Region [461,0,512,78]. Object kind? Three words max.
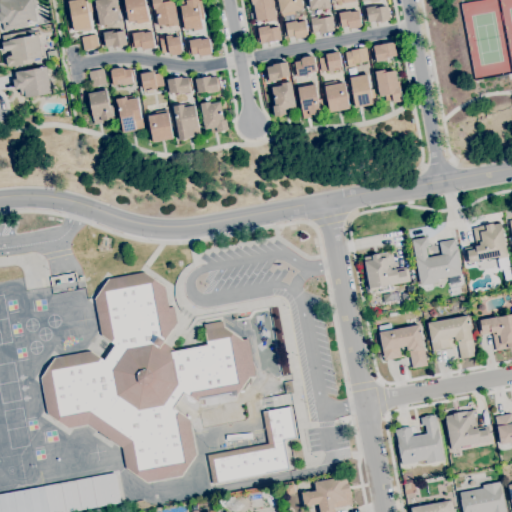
tennis court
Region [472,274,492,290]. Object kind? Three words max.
swimming pool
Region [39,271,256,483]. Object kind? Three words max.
building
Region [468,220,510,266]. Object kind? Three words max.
house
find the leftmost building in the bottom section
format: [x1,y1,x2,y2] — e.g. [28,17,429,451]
[0,472,124,512]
